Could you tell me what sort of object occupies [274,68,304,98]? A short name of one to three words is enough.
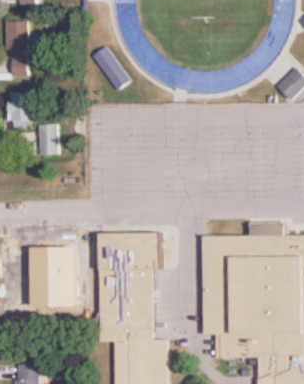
shed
